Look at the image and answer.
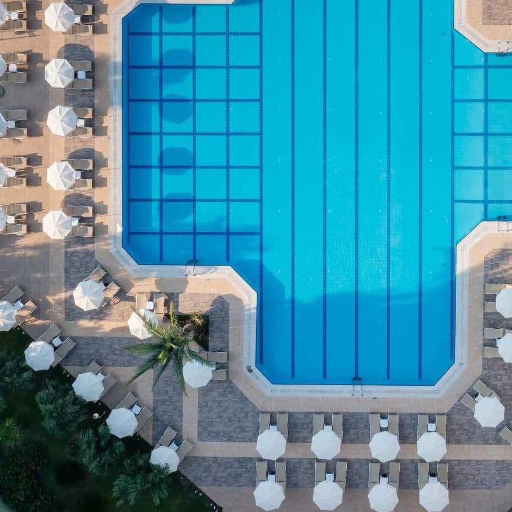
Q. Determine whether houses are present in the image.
No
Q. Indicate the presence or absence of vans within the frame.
No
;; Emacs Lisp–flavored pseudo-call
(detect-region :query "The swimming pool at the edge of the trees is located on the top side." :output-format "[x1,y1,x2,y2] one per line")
[122,0,512,386]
